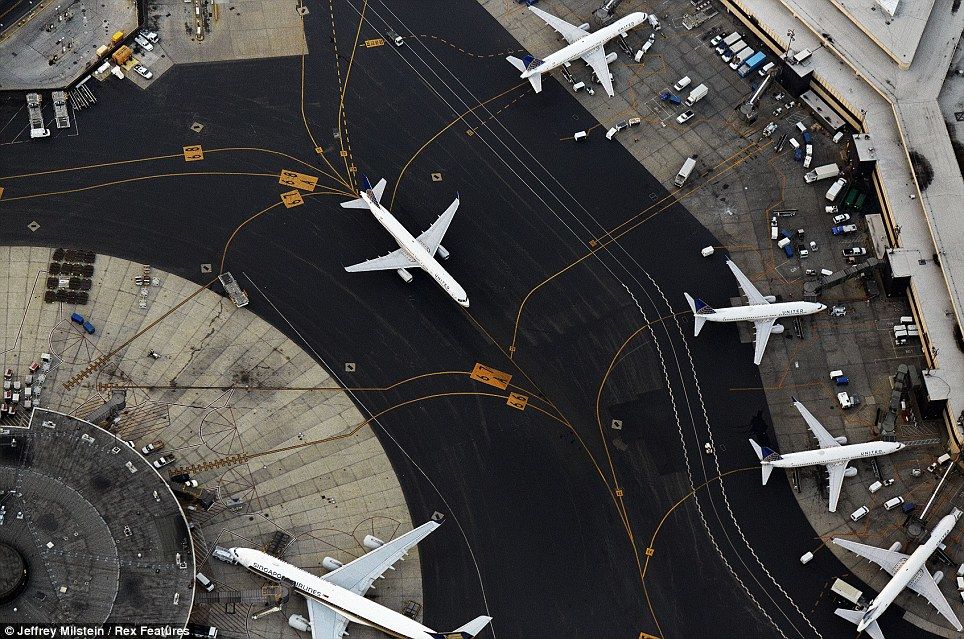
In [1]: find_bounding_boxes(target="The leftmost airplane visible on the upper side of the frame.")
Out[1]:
[341,174,471,307]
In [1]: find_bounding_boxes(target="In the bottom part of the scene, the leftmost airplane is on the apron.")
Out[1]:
[229,514,489,639]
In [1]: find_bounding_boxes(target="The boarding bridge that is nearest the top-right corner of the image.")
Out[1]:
[735,66,785,122]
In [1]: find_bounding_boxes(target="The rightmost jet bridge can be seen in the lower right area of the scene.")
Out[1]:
[906,455,958,540]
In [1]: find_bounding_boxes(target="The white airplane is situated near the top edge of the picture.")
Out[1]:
[506,8,648,95]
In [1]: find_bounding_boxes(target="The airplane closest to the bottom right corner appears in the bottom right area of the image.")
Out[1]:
[832,513,962,639]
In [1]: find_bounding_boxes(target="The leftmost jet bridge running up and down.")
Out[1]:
[874,361,910,446]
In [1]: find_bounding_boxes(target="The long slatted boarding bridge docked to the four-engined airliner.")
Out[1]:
[193,582,291,619]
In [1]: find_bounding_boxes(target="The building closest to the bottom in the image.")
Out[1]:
[0,407,192,639]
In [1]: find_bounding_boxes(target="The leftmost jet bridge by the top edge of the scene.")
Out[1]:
[587,0,627,32]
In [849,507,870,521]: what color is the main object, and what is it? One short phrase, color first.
white vehicle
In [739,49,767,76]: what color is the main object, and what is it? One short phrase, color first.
blue truck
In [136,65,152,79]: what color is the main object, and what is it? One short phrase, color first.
white car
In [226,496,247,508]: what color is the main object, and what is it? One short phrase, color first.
gray vehicle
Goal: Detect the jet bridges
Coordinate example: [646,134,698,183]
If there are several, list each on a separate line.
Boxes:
[193,582,291,619]
[804,254,887,300]
[906,455,958,540]
[874,361,910,446]
[176,481,217,521]
[587,0,627,32]
[735,66,785,122]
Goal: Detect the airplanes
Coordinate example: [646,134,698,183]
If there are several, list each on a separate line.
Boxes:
[341,174,471,307]
[506,8,648,95]
[229,514,489,639]
[832,513,962,639]
[752,394,902,513]
[684,254,829,365]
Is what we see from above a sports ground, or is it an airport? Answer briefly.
airport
